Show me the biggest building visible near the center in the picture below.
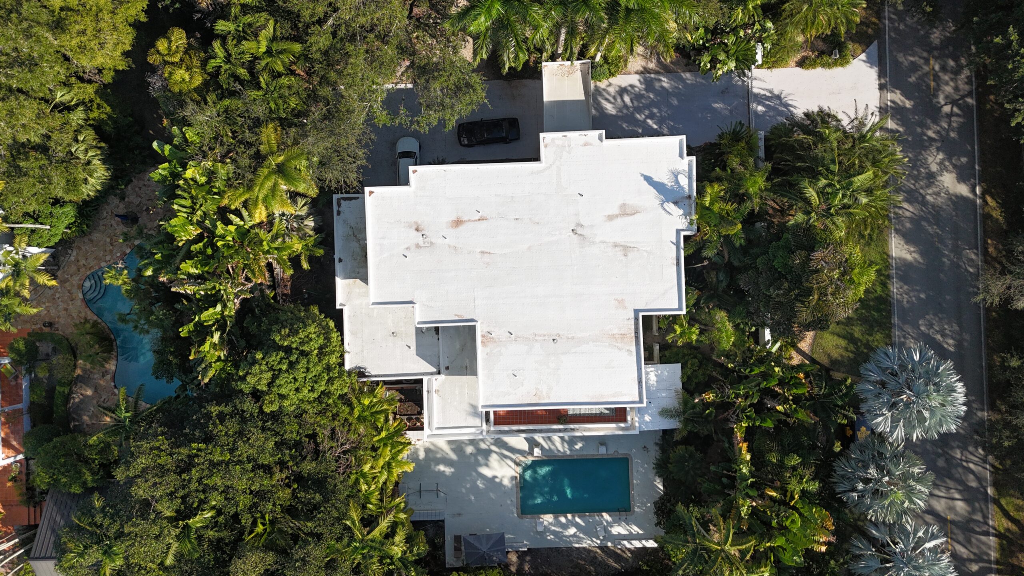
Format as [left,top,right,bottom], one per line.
[333,60,696,440]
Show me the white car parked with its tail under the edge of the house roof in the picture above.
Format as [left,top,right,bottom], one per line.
[393,138,423,186]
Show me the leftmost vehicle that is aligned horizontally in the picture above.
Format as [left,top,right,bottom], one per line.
[457,117,520,148]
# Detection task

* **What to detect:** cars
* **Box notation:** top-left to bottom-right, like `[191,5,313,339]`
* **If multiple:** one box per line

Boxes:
[393,138,423,186]
[457,117,520,148]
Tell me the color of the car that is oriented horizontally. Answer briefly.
black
